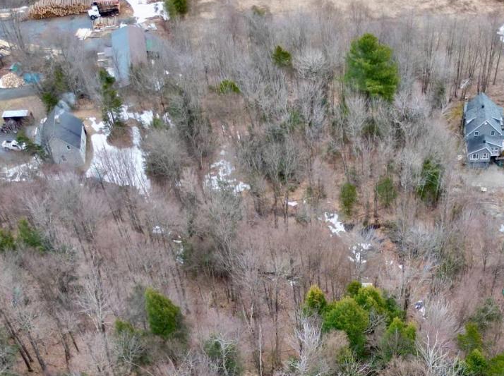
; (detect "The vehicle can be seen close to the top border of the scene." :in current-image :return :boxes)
[86,2,121,21]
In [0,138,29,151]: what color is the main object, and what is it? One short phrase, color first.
white vehicle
